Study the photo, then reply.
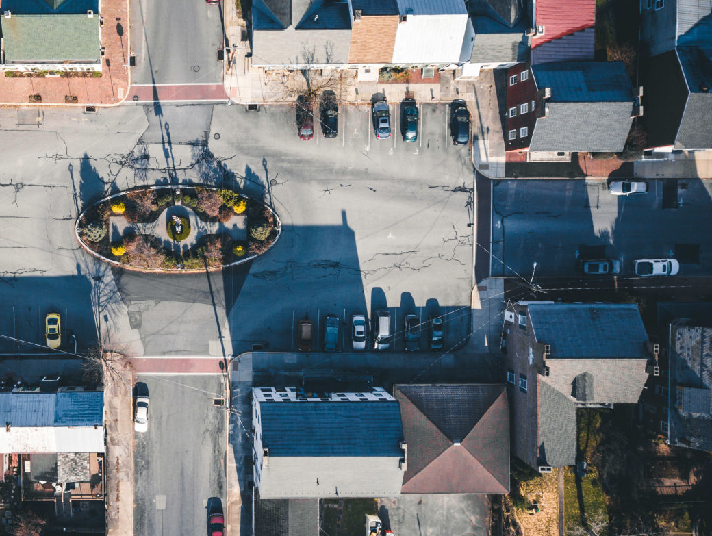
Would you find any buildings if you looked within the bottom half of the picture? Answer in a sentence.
Yes, looking within the bottom half of the picture, one can make out a building.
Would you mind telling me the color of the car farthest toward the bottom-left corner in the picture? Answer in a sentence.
In this view, the car farthest toward the bottom-left corner is white.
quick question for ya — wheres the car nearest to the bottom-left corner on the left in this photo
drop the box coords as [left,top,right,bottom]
[131,394,151,431]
